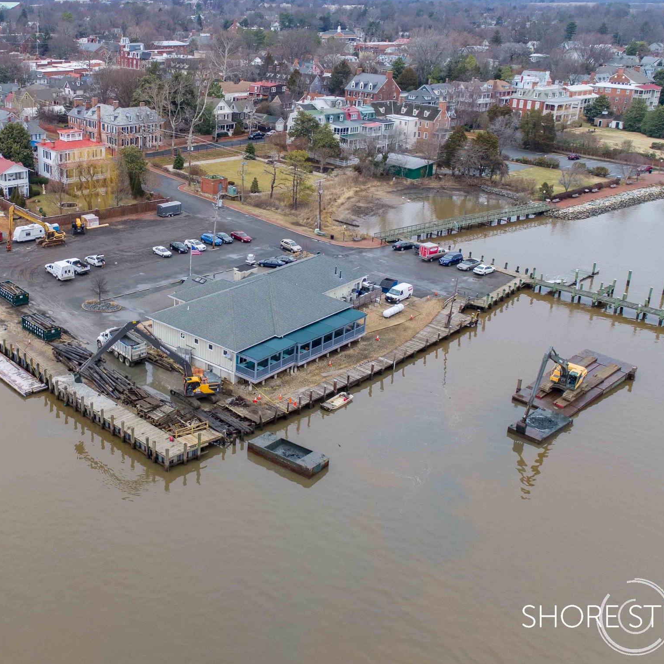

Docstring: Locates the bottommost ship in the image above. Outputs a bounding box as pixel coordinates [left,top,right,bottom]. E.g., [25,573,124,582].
[248,433,329,478]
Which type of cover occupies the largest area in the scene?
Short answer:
water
